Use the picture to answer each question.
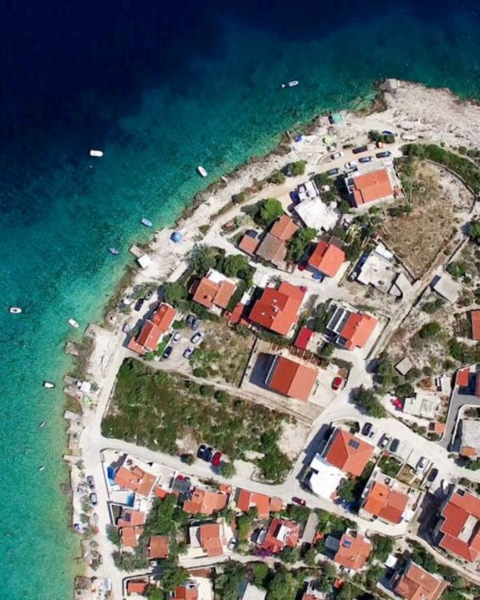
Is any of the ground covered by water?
Yes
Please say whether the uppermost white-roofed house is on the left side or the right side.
right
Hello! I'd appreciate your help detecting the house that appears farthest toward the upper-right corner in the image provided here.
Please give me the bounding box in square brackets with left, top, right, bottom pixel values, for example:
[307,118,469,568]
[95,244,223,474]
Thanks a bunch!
[346,168,404,207]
